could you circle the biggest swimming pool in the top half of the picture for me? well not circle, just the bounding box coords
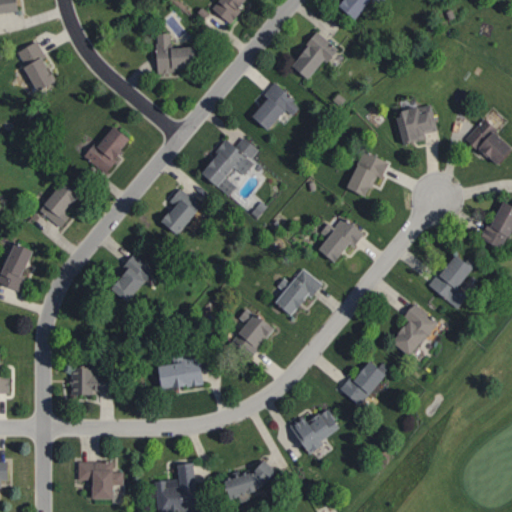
[226,161,266,212]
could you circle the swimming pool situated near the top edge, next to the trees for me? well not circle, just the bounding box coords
[165,12,188,42]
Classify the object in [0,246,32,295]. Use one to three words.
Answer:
house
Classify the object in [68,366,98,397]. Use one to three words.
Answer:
house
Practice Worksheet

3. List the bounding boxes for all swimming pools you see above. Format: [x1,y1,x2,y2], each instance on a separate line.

[226,161,266,212]
[165,12,188,42]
